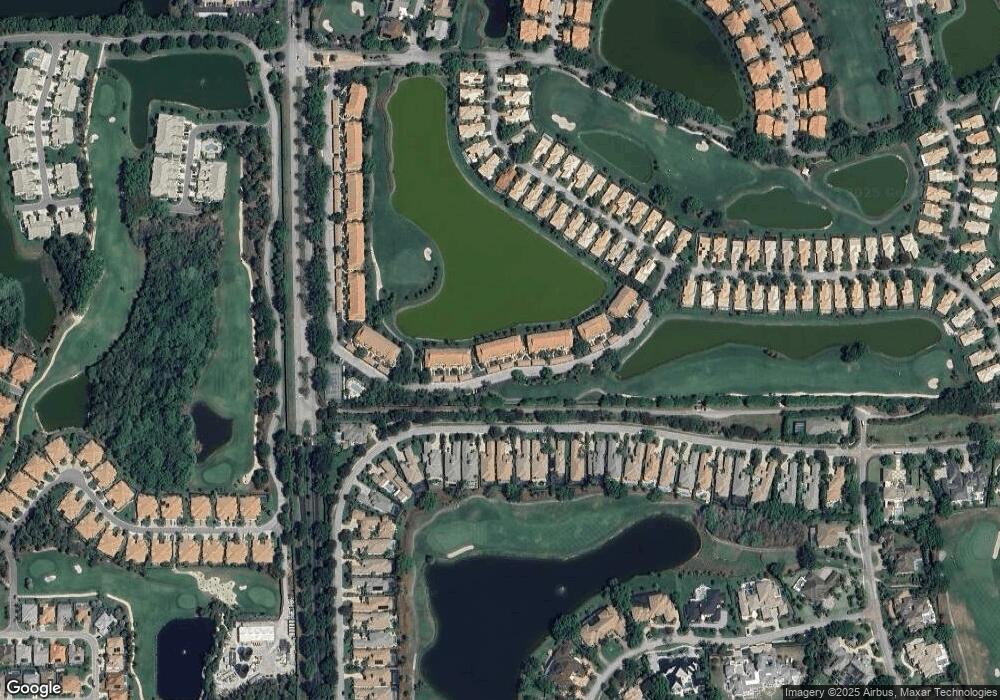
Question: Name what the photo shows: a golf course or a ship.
golf course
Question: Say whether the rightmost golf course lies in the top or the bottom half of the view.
bottom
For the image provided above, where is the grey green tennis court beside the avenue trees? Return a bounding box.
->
[325,363,342,398]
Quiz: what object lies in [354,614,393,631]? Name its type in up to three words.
house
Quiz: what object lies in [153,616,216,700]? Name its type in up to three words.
pond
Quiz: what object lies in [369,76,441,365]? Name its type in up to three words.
golf course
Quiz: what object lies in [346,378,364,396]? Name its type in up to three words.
swimming pool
